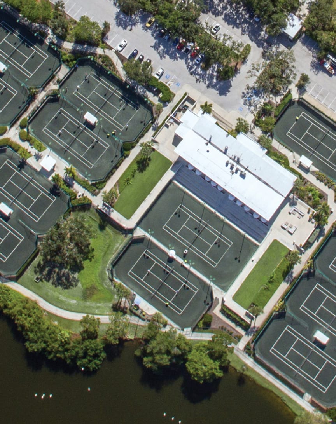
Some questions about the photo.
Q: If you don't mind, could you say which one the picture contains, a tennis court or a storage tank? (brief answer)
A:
tennis court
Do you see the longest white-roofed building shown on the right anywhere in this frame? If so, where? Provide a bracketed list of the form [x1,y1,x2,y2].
[174,109,297,221]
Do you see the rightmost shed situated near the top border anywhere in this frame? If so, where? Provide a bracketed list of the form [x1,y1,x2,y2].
[282,13,303,41]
